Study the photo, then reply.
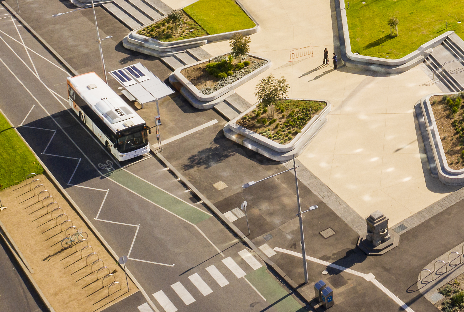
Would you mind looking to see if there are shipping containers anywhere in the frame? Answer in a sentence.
No, no shipping container is visible in the view.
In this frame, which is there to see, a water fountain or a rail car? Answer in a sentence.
There is a water fountain in the scene.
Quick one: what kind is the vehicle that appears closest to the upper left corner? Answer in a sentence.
It looks like the vehicle that appears closest to the upper left corner is a bus.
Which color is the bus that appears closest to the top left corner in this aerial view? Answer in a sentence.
The bus that appears closest to the top left corner is white.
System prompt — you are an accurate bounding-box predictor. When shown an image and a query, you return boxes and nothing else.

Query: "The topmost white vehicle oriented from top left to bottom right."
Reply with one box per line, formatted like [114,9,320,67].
[63,74,153,162]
